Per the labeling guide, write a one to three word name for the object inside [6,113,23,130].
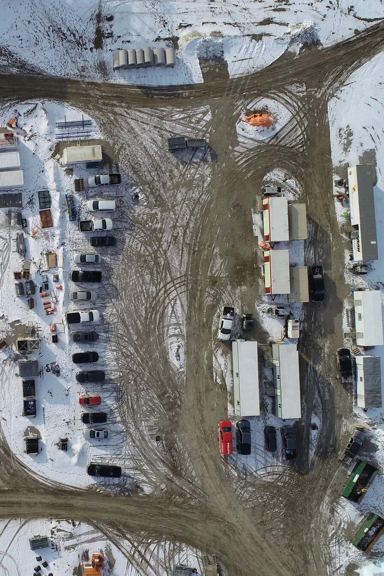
work vehicle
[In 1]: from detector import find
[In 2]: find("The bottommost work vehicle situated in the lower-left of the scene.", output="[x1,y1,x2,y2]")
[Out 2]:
[89,551,105,572]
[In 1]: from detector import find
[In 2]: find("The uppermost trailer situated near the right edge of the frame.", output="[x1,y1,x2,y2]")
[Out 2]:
[344,164,378,262]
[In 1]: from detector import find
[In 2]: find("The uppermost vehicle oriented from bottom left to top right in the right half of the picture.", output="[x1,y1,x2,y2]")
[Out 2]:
[337,428,364,465]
